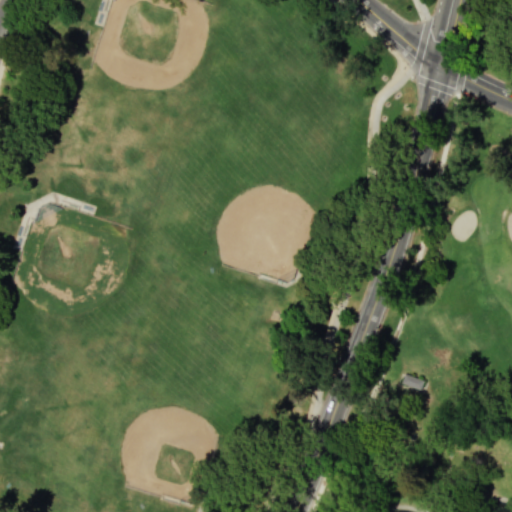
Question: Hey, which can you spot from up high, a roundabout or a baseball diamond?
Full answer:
Visible in the photo is a baseball diamond.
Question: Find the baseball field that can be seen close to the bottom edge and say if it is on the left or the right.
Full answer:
It is on the left.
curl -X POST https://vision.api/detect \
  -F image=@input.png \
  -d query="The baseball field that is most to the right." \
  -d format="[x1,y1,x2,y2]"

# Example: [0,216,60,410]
[217,185,314,282]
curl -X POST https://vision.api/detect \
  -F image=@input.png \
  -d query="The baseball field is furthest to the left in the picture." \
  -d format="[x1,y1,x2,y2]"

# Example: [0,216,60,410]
[16,205,132,315]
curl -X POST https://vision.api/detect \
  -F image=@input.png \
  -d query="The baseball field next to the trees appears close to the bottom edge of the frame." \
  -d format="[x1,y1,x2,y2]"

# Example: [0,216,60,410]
[122,406,218,502]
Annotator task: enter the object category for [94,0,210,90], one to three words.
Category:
baseball field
